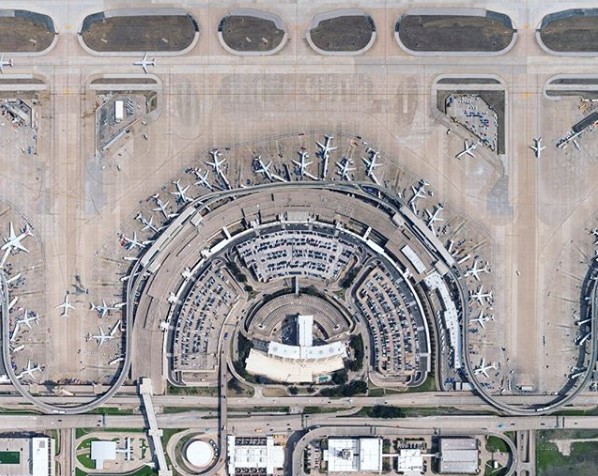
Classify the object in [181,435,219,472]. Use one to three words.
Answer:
storage tank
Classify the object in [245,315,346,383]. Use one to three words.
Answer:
building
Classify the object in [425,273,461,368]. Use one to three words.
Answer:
building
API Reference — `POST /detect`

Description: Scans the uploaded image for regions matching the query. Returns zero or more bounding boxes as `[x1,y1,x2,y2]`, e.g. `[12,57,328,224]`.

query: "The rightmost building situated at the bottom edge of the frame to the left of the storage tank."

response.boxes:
[91,442,121,470]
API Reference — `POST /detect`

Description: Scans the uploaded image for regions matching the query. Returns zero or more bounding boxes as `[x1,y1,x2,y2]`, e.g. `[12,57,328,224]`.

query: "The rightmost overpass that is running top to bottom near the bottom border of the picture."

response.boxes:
[180,345,228,476]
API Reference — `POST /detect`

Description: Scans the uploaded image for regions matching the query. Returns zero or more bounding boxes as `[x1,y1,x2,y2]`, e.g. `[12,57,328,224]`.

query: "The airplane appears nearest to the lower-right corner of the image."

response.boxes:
[478,357,498,378]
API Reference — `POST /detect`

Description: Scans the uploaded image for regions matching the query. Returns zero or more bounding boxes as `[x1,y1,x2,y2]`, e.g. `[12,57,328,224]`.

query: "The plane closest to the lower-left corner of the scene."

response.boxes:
[19,360,42,380]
